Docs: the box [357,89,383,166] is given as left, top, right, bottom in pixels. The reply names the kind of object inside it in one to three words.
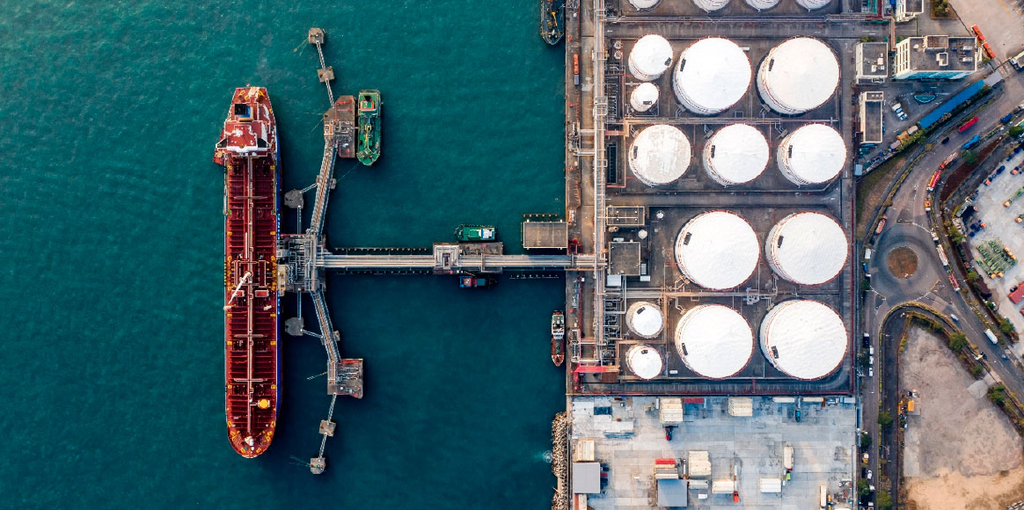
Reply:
ship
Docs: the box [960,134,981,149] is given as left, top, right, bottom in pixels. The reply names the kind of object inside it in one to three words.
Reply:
vehicle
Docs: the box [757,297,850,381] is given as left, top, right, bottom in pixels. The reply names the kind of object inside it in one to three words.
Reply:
storage tank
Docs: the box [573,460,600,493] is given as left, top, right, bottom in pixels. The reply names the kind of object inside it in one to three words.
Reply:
shed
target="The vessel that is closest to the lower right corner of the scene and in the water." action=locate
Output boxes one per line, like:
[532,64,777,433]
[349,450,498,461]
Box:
[551,311,565,366]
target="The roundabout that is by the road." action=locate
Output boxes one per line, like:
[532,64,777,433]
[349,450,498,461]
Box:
[868,228,937,296]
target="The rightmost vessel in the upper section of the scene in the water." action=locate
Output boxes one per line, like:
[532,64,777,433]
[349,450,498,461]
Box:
[541,0,564,45]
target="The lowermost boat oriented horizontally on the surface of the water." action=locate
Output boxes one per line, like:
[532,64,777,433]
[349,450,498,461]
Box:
[460,270,498,289]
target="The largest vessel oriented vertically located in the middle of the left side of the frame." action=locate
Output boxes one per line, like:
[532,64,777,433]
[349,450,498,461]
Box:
[213,84,282,458]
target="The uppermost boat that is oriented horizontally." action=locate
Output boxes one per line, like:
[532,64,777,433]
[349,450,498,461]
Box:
[454,223,498,242]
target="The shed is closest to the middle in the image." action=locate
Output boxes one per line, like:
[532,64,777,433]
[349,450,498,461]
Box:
[520,219,568,250]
